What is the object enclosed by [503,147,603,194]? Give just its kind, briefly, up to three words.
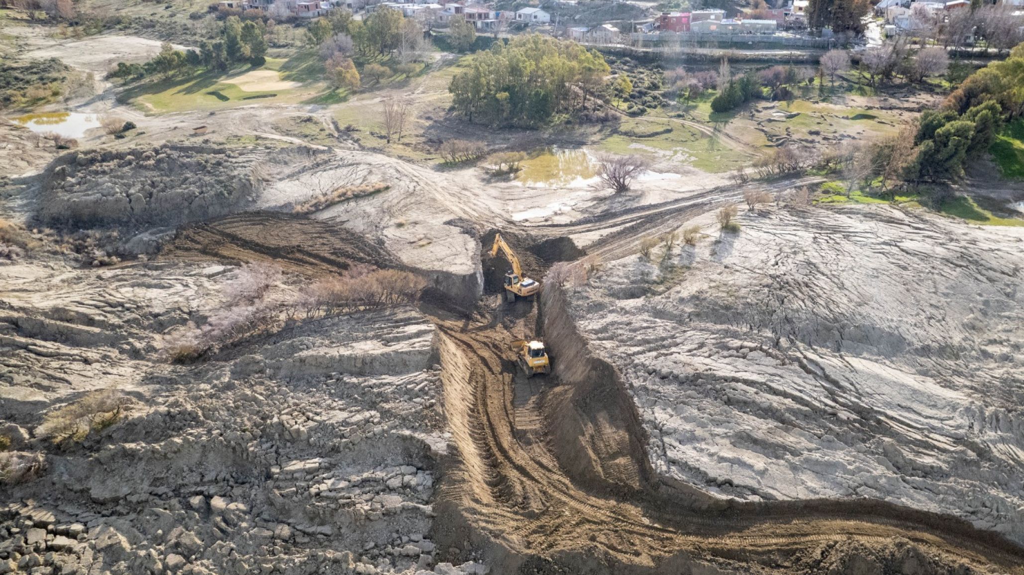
pond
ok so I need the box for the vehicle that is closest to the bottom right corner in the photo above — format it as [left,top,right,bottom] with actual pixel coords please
[510,335,550,376]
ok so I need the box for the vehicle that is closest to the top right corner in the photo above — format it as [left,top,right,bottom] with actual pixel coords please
[876,20,899,35]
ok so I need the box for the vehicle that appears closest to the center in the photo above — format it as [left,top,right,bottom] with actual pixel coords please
[489,234,539,305]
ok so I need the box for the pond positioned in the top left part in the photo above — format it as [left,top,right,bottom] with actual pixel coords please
[7,111,105,141]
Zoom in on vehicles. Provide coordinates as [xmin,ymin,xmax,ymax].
[876,20,899,35]
[510,335,550,376]
[489,234,539,305]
